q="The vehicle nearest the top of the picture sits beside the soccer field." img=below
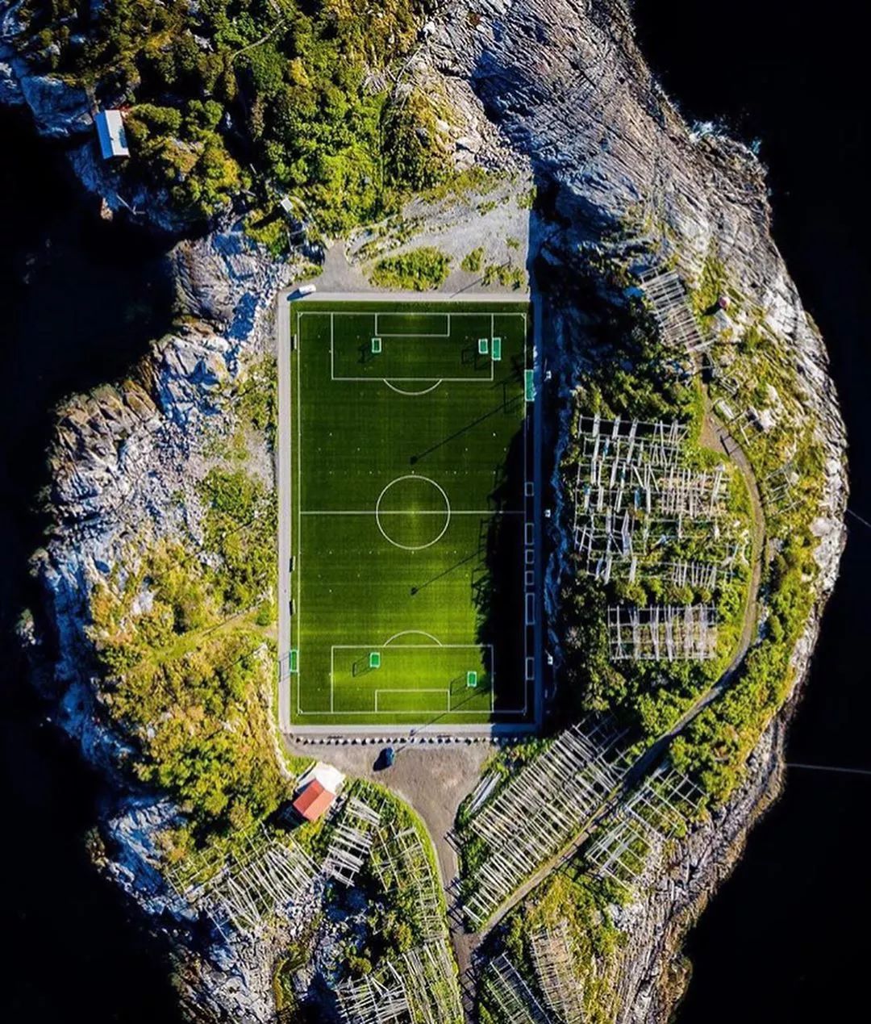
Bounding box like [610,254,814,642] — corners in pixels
[299,283,318,295]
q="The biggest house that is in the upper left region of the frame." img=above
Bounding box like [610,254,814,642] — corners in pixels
[95,111,129,165]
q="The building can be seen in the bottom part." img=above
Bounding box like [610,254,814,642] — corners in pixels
[293,778,336,823]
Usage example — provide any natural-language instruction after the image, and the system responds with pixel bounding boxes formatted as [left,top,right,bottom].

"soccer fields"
[291,301,534,724]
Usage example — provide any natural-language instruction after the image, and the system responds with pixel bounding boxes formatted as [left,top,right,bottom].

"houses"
[293,778,336,823]
[95,111,129,165]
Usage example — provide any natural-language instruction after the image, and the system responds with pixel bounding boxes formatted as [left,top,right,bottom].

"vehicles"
[299,283,318,295]
[383,747,392,766]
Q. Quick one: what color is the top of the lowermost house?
red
